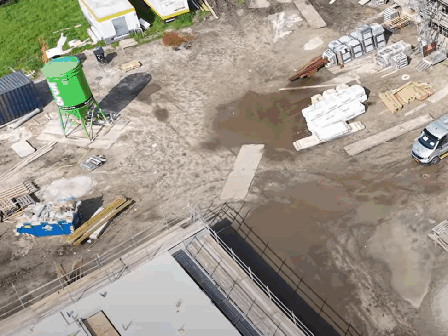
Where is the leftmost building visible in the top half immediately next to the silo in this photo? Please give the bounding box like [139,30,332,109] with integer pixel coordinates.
[63,0,142,47]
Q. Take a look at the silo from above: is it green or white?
green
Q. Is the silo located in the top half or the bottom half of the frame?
top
